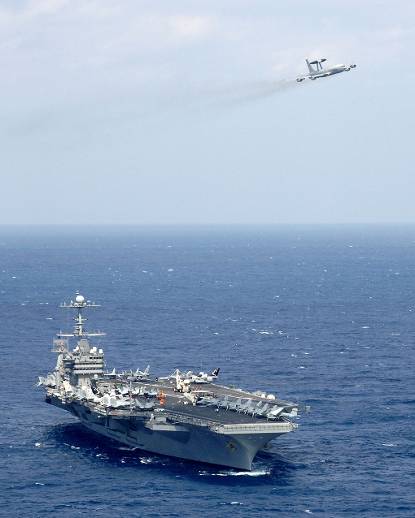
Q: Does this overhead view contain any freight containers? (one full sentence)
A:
No, no freight container can be seen from above.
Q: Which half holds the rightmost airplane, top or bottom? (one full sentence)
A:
Seen from above, the rightmost airplane lies in the top half of the view.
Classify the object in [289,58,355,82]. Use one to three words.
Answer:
airplane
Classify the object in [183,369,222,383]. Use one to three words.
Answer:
airplane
